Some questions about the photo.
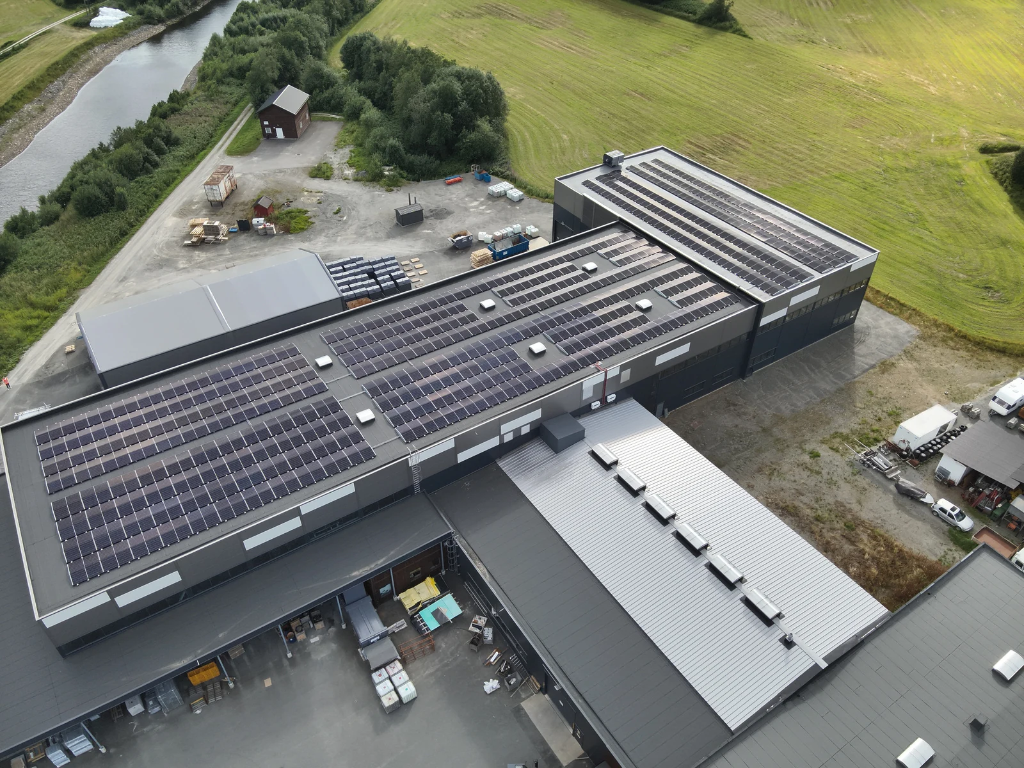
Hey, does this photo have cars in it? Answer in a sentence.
Yes, this view includes a car.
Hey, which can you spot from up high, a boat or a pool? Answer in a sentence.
The image shows a boat.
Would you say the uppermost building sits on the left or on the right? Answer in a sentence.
You can find the uppermost building on the left side of the picture.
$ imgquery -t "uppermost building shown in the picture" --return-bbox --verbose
[256,85,311,139]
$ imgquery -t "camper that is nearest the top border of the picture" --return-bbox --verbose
[988,377,1024,417]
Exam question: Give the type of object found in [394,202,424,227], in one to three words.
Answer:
shed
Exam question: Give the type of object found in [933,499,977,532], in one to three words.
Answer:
car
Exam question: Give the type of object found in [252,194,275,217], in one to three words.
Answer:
shed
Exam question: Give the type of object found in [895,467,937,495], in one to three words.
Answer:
boat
